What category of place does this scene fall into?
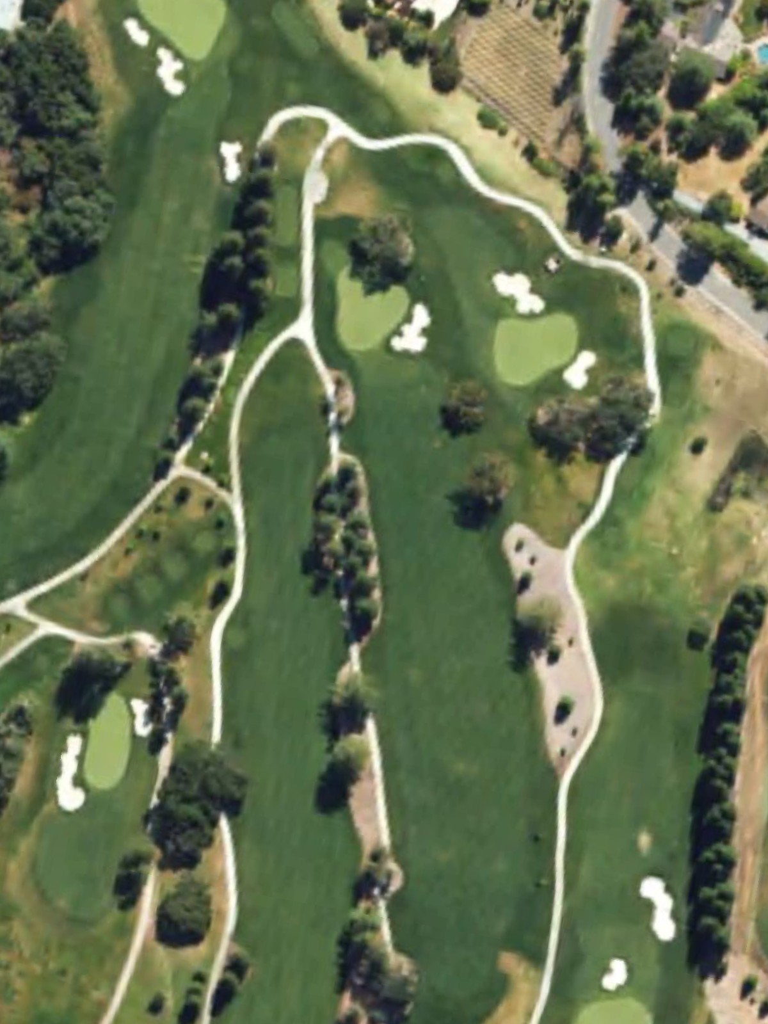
golf course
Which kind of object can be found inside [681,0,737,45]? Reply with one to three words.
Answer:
house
